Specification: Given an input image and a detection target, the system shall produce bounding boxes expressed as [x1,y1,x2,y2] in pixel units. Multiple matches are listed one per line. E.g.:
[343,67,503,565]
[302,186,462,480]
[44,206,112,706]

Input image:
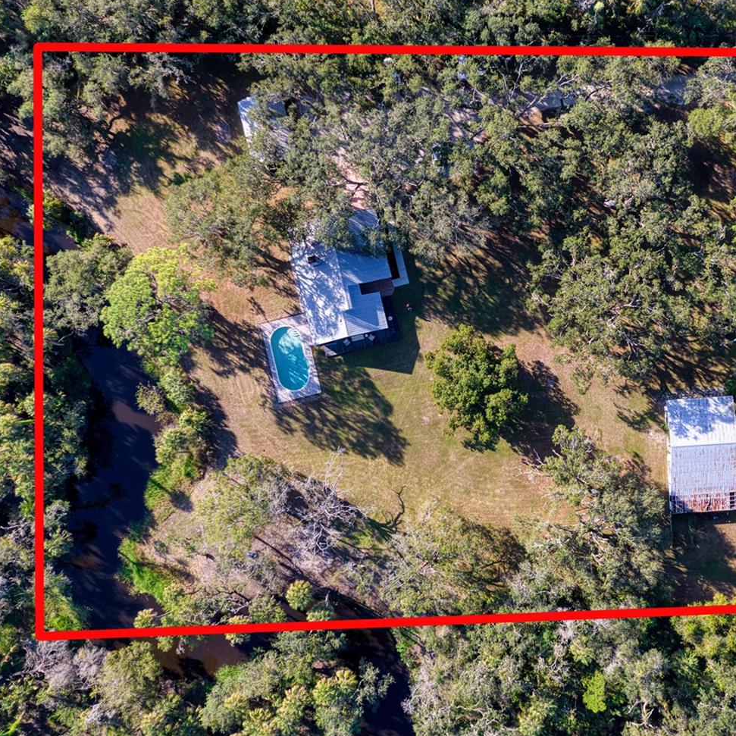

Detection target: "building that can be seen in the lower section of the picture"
[663,396,736,516]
